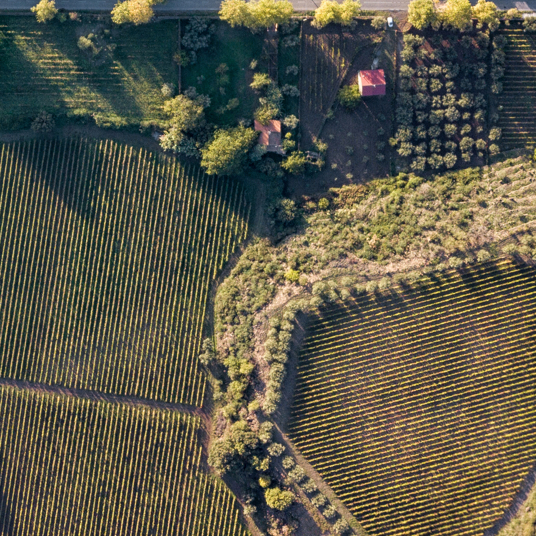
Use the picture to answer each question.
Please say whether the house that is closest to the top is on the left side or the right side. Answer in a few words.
right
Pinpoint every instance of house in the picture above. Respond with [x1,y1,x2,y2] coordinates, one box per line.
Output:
[356,69,386,97]
[252,120,284,154]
